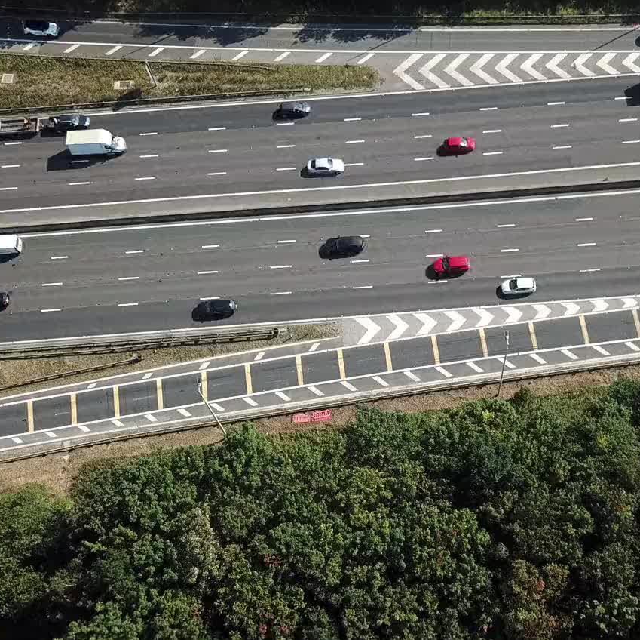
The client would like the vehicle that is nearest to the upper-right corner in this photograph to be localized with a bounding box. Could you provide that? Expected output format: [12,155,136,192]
[446,136,477,154]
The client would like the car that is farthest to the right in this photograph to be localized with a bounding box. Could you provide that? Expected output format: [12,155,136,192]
[500,276,537,296]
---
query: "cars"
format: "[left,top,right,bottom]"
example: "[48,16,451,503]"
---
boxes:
[446,136,477,154]
[308,158,344,177]
[326,237,364,256]
[0,292,13,310]
[278,101,312,119]
[434,255,470,275]
[24,21,59,38]
[500,276,537,296]
[51,113,91,132]
[199,297,238,317]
